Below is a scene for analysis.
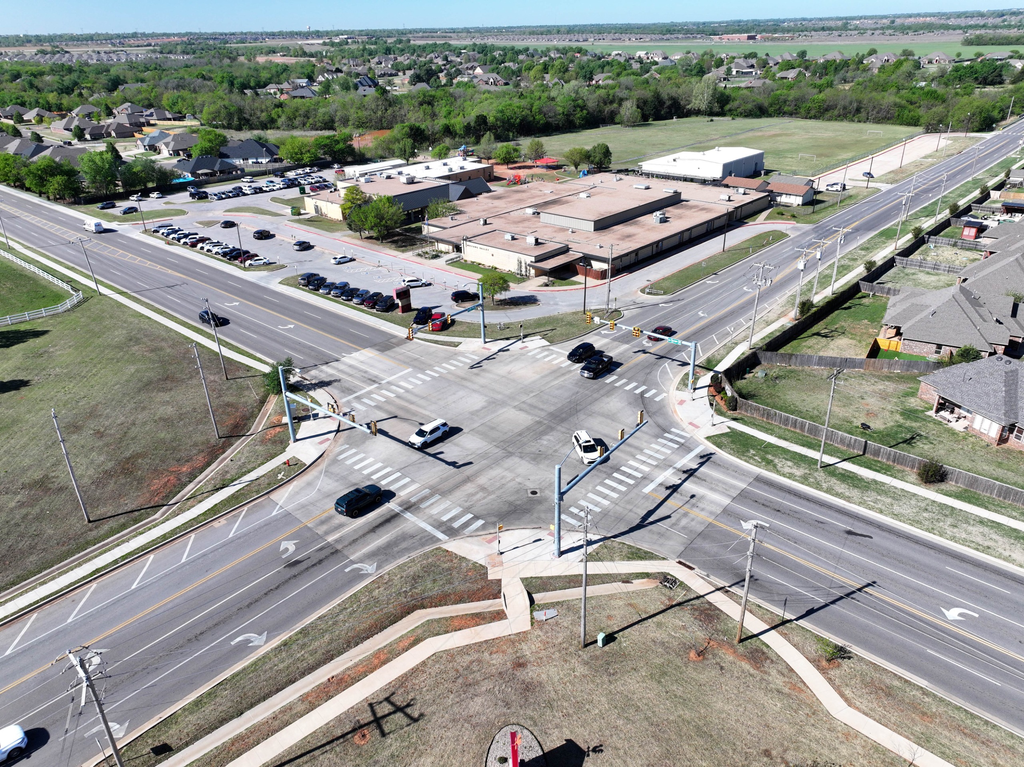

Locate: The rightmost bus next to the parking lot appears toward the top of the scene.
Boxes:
[851,137,986,184]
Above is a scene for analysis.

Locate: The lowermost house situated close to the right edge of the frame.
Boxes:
[886,355,1024,466]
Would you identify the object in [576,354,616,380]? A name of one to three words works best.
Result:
truck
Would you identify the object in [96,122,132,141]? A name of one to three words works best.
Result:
house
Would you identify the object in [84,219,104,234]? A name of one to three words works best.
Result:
vehicle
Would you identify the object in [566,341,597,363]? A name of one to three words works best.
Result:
car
